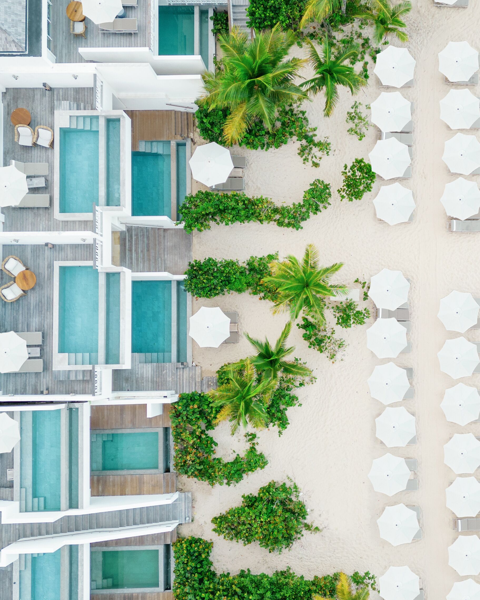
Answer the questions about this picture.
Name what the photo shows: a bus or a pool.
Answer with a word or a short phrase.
pool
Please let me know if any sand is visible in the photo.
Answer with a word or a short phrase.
Yes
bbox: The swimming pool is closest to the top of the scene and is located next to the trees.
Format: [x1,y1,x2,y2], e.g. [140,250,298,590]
[154,3,215,80]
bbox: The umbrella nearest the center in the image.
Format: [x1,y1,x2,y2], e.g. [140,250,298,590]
[188,304,232,348]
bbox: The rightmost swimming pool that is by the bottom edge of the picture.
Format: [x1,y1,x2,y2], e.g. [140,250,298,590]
[94,537,179,594]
